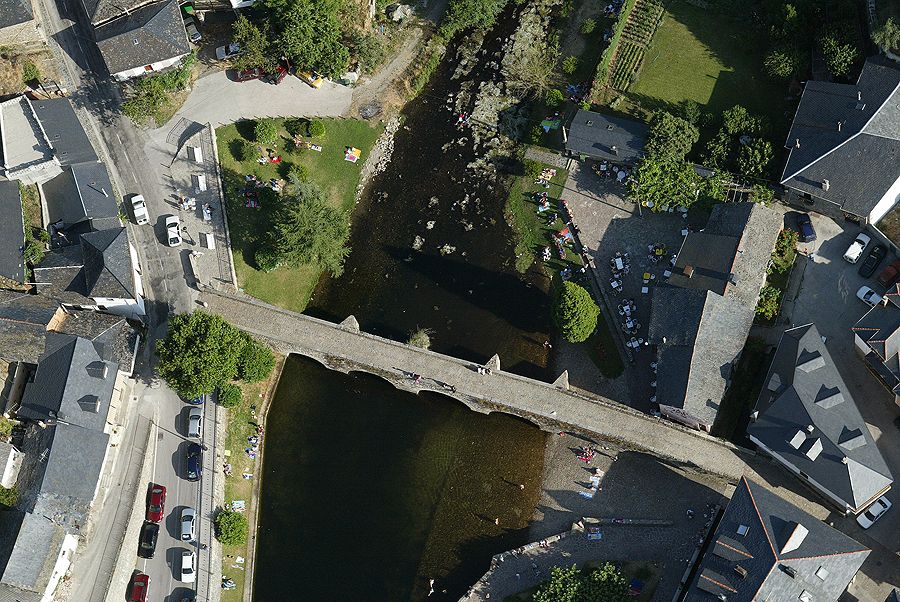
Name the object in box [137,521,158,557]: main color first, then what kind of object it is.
black car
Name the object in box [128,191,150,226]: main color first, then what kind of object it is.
white car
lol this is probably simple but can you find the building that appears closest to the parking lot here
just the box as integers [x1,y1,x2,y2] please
[93,0,198,84]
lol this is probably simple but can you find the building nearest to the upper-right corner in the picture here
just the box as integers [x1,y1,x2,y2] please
[780,58,900,234]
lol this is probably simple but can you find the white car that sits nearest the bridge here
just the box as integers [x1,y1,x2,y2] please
[162,212,183,247]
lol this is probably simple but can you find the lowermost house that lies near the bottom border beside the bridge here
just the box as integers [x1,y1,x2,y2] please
[664,476,872,602]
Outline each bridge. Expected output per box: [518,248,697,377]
[197,286,734,485]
